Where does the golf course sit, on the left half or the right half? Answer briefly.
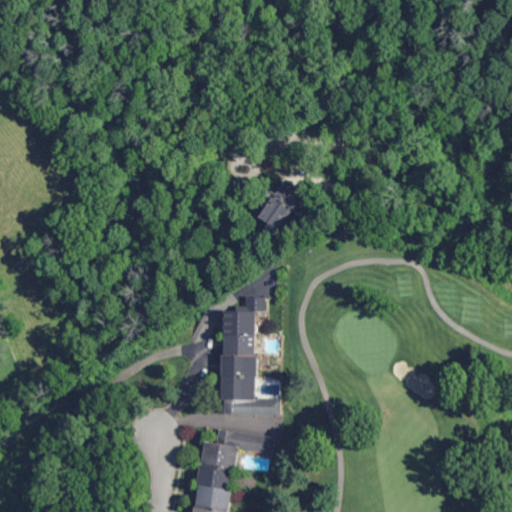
right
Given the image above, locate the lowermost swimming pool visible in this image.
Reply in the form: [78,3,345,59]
[239,455,271,473]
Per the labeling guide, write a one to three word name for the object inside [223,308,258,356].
house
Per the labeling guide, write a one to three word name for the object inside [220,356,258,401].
house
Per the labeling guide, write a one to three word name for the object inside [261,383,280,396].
swimming pool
